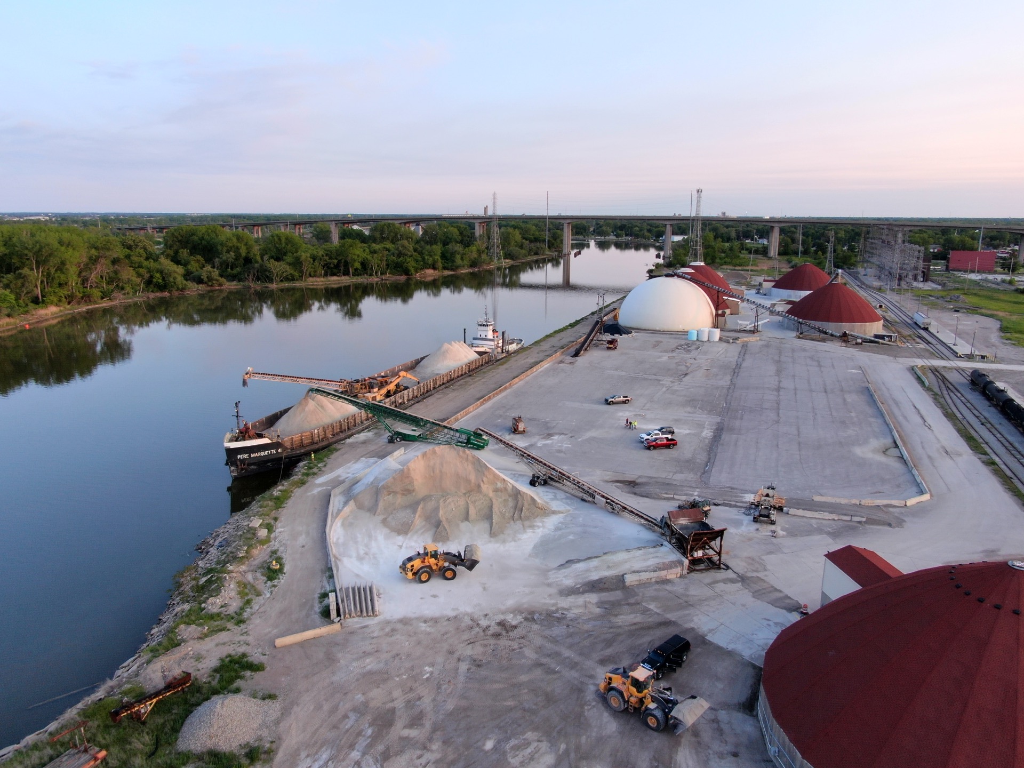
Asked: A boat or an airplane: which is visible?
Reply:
boat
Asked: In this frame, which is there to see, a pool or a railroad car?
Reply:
railroad car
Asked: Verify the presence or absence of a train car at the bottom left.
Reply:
No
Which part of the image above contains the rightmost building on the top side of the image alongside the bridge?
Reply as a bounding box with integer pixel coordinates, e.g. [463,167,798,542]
[946,250,1000,272]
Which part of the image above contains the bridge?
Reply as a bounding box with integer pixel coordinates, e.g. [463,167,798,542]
[96,215,1024,261]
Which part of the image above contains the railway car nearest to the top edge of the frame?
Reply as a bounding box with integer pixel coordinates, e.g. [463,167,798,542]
[917,315,933,332]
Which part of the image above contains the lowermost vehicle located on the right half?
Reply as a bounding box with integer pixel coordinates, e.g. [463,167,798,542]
[593,658,719,736]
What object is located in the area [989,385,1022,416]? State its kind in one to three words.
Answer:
rail car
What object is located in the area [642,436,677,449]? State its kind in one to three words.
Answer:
vehicle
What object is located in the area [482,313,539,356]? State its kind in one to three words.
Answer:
boat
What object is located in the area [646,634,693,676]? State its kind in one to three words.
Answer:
truck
